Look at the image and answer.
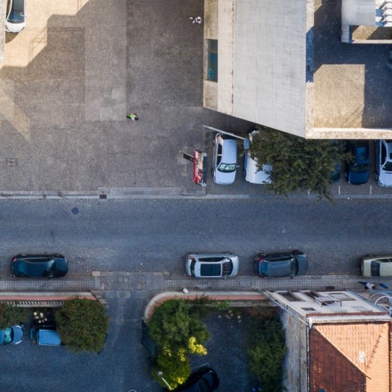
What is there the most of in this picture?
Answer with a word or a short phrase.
paved ground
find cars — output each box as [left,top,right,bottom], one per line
[30,322,77,352]
[345,139,374,186]
[211,131,242,186]
[252,249,308,279]
[6,0,31,33]
[0,323,28,351]
[183,251,240,281]
[174,361,222,392]
[359,252,392,277]
[373,139,392,187]
[10,253,68,282]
